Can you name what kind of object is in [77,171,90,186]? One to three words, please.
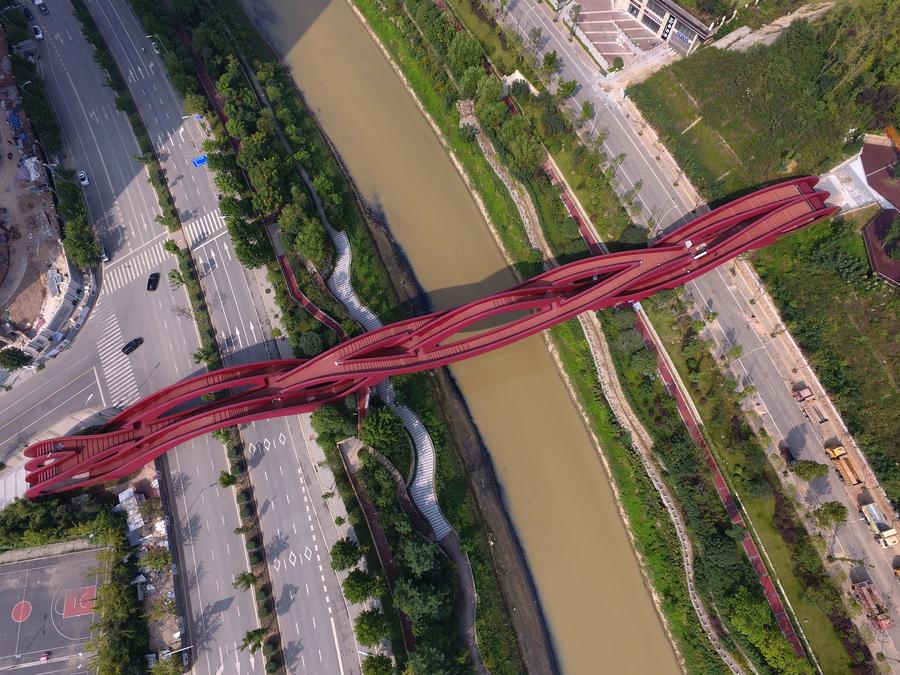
vehicle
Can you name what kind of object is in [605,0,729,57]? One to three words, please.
building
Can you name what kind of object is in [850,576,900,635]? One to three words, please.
truck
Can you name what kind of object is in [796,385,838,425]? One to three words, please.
truck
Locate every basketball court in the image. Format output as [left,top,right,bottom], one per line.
[0,549,108,675]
